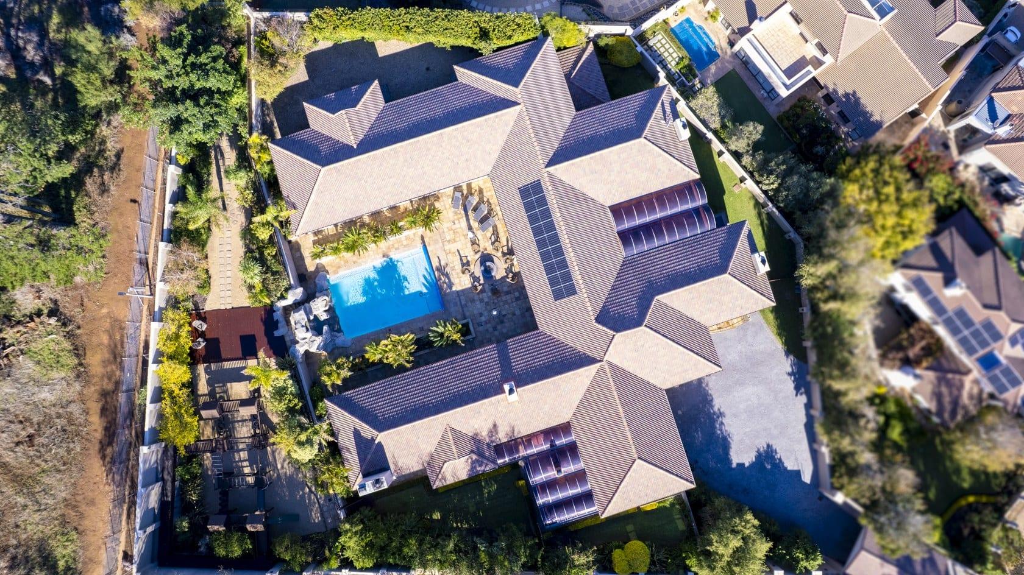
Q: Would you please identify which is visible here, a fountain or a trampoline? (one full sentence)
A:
Visible in the photo is a fountain.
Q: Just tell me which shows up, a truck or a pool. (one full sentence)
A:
The one in the frame is a pool.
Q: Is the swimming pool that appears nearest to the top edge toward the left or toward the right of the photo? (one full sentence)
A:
The swimming pool that appears nearest to the top edge is on the right side of the image.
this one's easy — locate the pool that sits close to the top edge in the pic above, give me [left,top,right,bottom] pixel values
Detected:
[668,14,722,74]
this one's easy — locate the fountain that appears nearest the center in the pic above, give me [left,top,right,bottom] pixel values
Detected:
[474,255,502,283]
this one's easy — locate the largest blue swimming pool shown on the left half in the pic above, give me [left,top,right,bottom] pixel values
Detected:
[328,242,448,340]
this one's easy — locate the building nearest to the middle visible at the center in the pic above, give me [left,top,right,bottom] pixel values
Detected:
[267,36,776,529]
